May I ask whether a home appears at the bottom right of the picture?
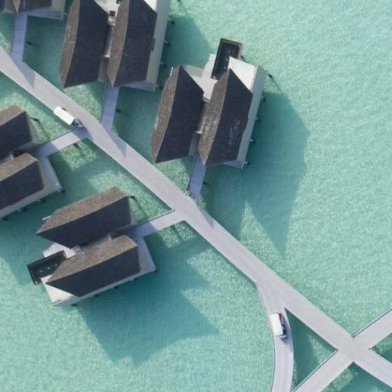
No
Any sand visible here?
Yes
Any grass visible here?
No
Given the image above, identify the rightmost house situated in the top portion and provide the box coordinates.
[152,51,278,174]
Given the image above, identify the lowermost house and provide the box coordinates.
[36,187,173,306]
